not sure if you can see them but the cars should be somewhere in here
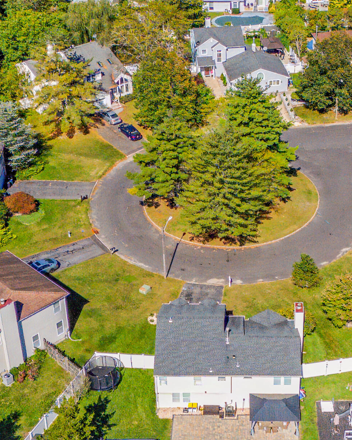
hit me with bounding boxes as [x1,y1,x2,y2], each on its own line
[100,108,124,123]
[32,256,63,274]
[120,124,145,139]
